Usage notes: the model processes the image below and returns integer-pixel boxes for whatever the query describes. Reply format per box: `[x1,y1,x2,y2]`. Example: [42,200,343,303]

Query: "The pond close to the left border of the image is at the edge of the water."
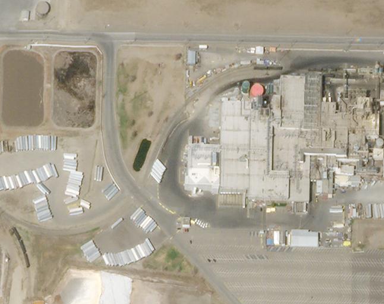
[1,51,45,126]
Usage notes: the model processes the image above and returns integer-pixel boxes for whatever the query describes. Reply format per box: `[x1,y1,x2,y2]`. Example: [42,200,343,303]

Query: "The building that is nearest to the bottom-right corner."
[290,230,319,249]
